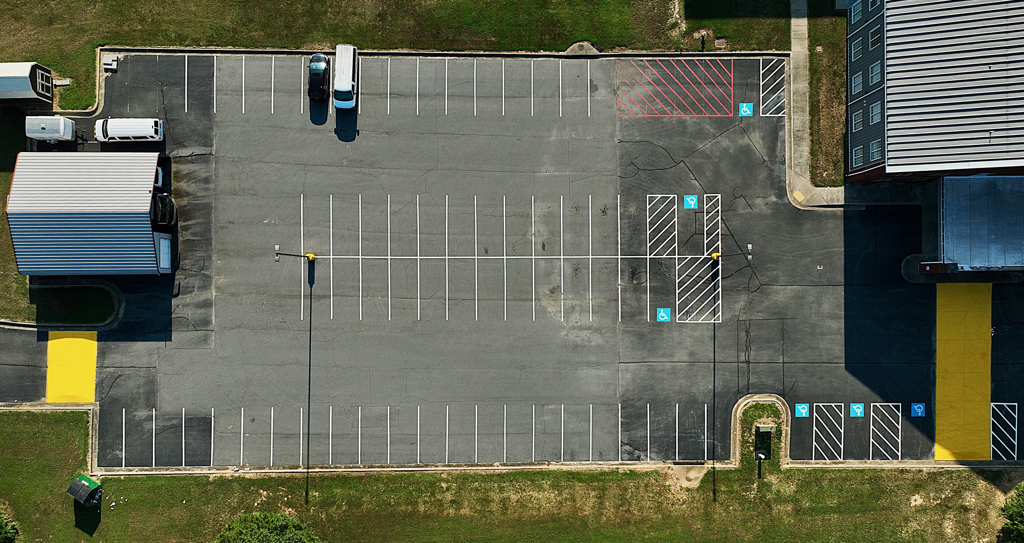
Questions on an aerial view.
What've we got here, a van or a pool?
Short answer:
van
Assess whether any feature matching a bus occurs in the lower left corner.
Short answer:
No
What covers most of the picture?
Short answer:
paved ground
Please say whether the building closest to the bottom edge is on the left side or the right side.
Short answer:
left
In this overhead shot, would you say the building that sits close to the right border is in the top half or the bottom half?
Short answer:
top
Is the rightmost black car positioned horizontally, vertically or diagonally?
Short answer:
vertically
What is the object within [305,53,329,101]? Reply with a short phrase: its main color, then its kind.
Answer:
black car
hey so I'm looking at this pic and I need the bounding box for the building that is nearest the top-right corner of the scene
[846,0,1024,182]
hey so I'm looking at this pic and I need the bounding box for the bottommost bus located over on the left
[151,194,176,228]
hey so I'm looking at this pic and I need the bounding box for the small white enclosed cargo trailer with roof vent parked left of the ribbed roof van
[26,116,89,144]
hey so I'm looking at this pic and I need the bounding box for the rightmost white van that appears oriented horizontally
[94,116,165,144]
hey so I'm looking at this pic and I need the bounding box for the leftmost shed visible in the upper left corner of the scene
[0,63,52,102]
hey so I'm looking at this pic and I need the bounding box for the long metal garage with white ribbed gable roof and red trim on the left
[6,152,172,274]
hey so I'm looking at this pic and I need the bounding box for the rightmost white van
[332,45,360,111]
